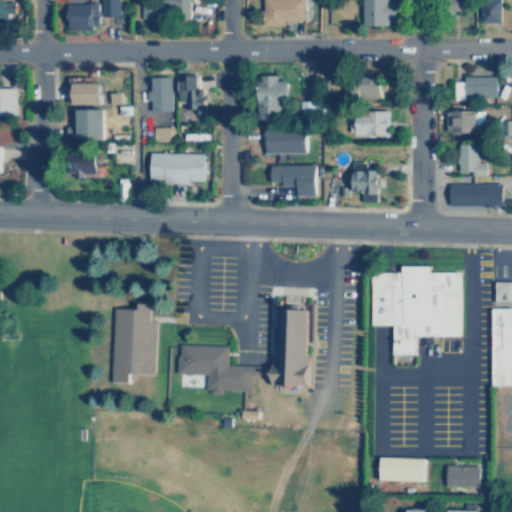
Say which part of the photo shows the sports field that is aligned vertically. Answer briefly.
bottom left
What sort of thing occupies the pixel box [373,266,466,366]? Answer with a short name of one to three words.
building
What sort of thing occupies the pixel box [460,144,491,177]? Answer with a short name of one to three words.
house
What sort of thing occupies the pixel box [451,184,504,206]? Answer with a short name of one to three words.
building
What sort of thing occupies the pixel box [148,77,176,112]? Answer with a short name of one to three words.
house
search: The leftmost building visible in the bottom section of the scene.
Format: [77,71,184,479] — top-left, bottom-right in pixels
[114,304,158,384]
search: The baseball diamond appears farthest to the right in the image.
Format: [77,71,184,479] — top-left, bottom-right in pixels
[81,480,184,512]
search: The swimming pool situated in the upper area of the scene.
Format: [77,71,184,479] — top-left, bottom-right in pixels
[336,152,352,168]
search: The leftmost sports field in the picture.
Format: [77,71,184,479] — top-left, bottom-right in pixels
[0,335,84,512]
